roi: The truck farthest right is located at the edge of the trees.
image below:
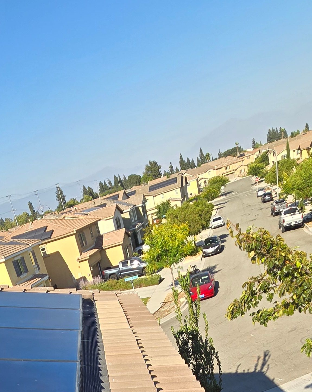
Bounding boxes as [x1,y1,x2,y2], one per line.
[277,203,306,232]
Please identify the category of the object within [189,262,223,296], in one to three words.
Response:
car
